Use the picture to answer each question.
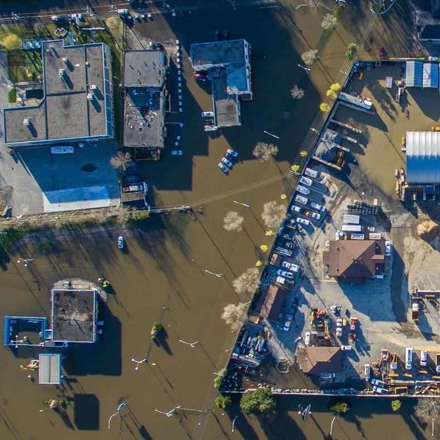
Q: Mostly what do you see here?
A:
water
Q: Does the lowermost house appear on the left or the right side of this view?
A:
right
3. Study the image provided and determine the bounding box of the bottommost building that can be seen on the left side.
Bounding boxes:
[52,289,102,342]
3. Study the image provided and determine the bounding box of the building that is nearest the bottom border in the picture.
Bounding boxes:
[298,346,342,373]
